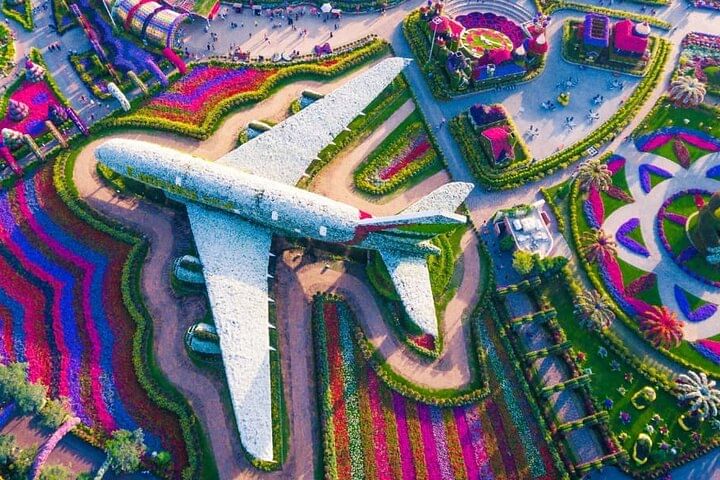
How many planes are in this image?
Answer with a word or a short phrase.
one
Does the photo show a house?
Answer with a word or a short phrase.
Yes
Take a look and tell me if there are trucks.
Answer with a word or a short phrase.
No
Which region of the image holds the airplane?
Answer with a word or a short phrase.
center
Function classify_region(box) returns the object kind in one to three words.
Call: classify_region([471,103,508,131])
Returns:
shed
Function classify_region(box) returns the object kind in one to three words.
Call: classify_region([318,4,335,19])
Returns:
umbrella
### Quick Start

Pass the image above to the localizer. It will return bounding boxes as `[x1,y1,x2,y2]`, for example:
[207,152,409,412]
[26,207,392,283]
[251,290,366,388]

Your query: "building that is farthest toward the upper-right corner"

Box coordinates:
[608,22,655,64]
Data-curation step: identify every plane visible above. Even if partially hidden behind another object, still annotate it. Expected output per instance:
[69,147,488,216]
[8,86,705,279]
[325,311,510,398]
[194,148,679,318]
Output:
[91,57,476,462]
